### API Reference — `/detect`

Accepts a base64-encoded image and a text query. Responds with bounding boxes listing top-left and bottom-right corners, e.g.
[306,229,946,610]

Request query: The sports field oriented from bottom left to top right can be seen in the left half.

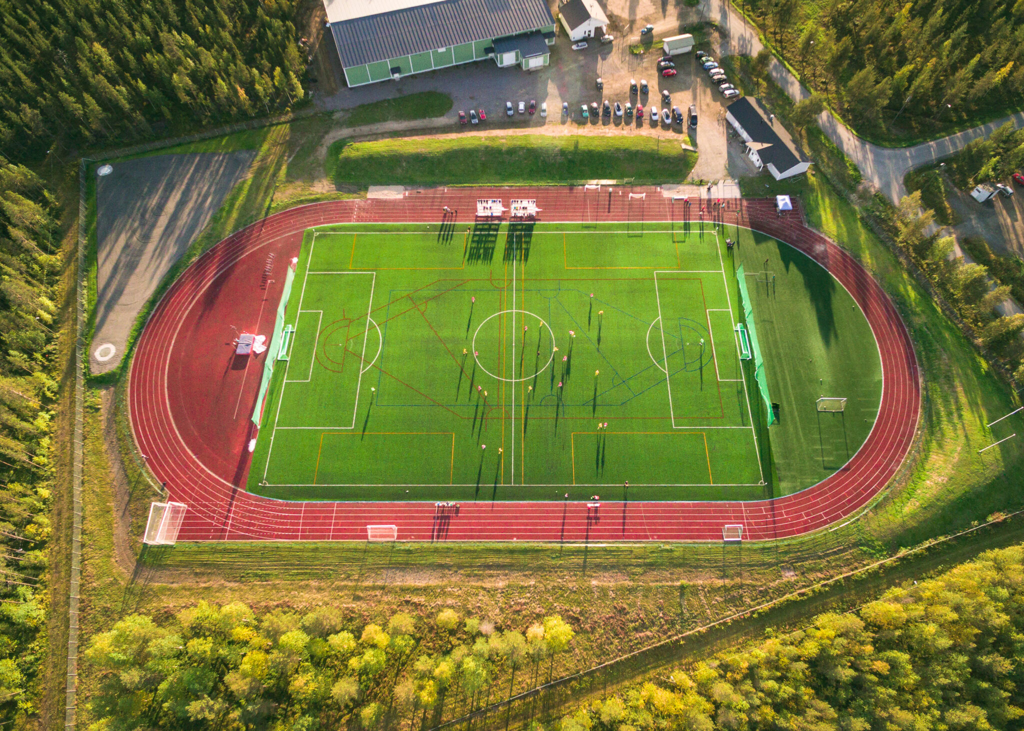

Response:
[87,150,257,373]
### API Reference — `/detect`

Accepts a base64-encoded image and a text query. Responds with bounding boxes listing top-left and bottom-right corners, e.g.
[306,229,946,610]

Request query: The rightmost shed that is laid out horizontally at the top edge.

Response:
[664,34,697,54]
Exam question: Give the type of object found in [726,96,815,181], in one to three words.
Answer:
building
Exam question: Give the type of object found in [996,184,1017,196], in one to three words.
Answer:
vehicle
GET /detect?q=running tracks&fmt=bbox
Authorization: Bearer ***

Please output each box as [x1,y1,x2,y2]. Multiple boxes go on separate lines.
[128,184,922,541]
